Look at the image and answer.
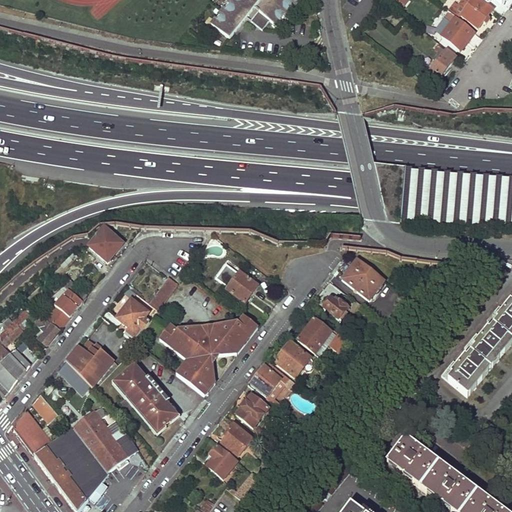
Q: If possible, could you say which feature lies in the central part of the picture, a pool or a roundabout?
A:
pool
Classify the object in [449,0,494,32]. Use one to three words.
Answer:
house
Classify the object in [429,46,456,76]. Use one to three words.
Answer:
house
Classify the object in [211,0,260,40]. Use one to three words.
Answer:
building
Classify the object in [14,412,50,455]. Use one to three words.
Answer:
building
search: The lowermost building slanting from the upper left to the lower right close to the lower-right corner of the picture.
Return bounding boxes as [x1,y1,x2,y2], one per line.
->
[383,434,511,512]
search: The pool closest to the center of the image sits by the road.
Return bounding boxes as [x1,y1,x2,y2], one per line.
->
[204,240,230,261]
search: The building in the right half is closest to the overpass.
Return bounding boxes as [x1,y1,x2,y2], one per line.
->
[340,256,386,305]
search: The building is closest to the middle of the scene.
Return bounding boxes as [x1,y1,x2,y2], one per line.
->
[226,270,260,304]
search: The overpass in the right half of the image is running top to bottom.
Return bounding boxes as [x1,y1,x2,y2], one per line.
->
[332,108,389,222]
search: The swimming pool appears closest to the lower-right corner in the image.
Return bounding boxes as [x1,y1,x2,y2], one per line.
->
[289,393,314,416]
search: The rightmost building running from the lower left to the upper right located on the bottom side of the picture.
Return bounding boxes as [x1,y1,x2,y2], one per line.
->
[440,288,512,399]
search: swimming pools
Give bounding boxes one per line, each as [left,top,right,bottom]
[204,240,230,261]
[289,393,314,416]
